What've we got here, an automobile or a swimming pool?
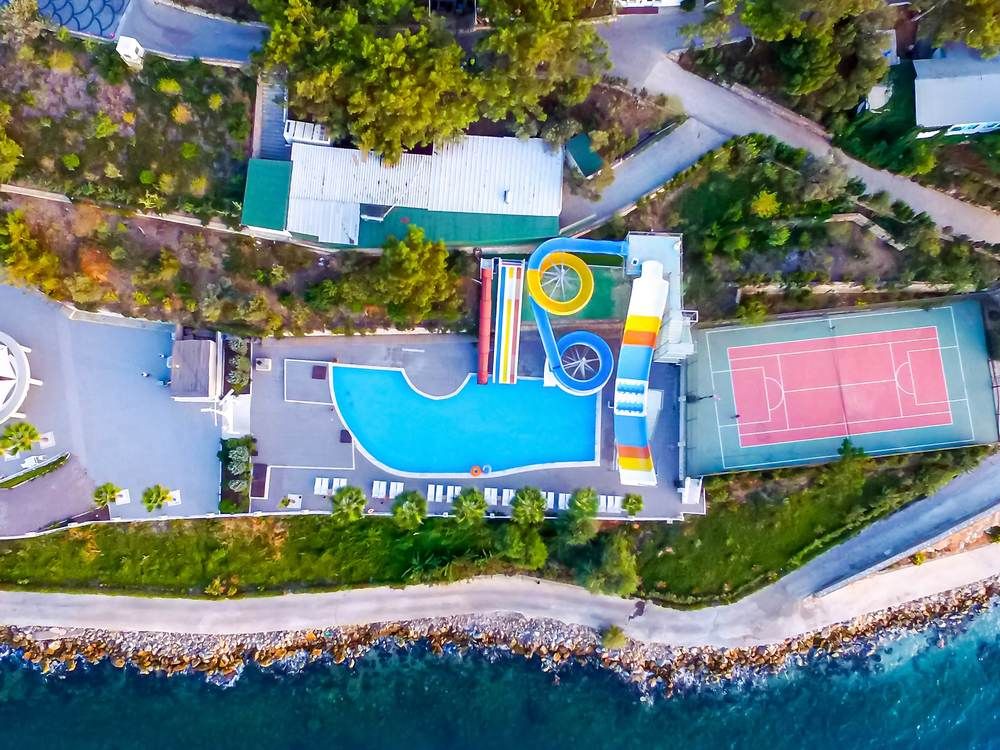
swimming pool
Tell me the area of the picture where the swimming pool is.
center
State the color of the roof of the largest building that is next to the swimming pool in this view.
white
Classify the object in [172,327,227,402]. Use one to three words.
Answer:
shed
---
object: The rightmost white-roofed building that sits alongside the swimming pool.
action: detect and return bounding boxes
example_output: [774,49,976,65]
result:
[287,138,562,250]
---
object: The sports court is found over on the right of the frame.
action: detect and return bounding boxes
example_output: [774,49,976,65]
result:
[690,298,999,476]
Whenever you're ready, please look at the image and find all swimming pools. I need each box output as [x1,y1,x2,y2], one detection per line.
[327,360,613,479]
